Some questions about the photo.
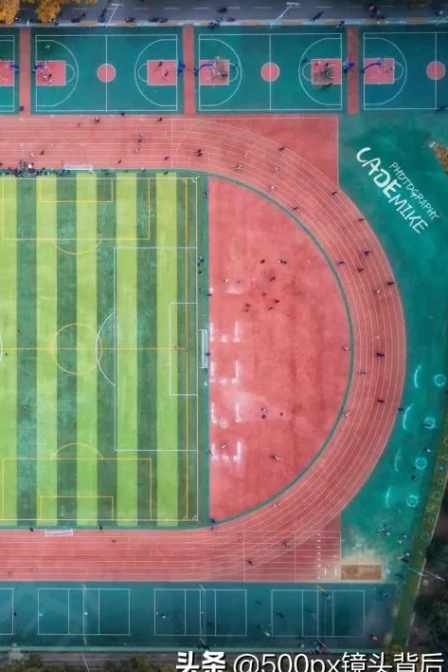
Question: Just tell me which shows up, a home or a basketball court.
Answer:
basketball court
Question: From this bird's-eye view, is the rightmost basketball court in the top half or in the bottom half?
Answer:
top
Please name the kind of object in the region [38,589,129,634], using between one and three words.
sports court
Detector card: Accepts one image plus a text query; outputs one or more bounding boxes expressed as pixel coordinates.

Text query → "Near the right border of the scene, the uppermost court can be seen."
[358,26,448,114]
